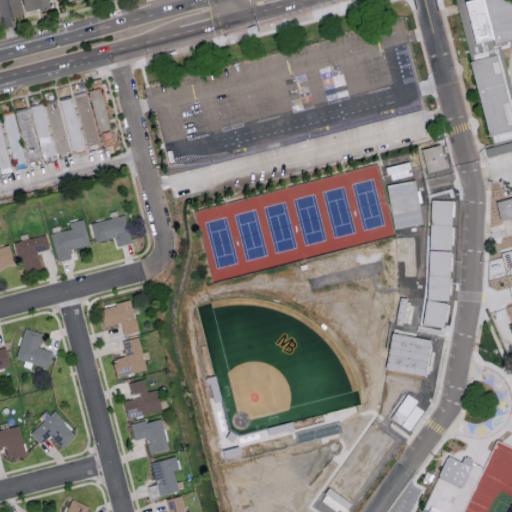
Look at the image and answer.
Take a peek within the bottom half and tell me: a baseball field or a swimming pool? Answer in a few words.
baseball field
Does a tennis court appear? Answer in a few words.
Yes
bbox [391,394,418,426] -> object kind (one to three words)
building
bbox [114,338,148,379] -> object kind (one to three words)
house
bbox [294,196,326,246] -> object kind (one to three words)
tennis court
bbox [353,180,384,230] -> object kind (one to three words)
tennis court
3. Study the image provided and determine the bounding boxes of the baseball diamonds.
[198,299,360,434]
